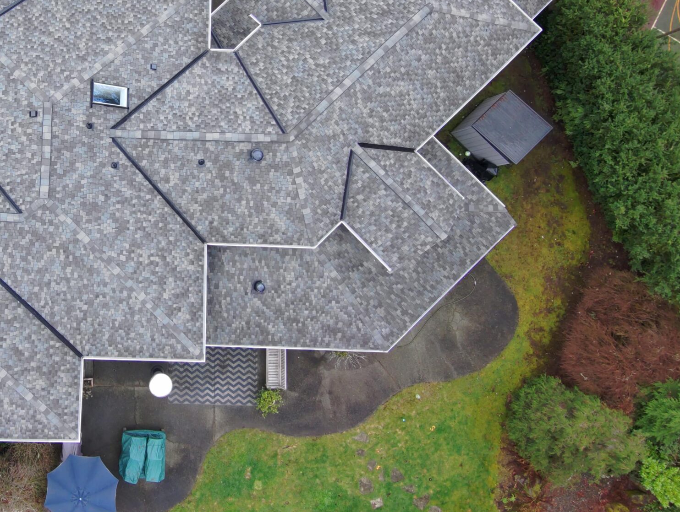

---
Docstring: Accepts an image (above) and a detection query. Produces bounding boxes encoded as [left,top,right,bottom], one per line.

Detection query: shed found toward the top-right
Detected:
[450,89,554,165]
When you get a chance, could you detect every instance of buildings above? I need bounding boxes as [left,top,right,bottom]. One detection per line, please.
[450,89,554,165]
[0,0,555,444]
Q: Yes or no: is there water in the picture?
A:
No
